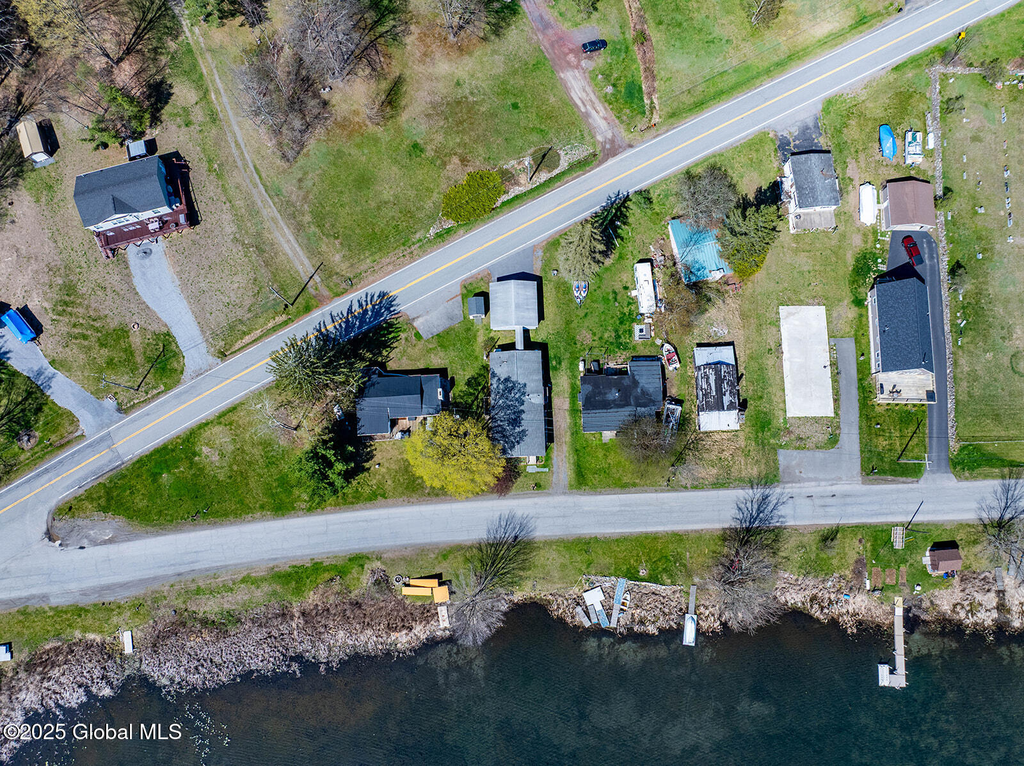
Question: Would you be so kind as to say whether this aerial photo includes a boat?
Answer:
Yes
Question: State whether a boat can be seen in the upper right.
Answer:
Yes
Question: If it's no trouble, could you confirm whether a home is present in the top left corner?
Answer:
Yes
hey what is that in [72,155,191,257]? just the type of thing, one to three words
house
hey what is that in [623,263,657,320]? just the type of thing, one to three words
vehicle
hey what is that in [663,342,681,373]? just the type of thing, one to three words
boat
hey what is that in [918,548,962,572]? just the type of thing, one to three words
shed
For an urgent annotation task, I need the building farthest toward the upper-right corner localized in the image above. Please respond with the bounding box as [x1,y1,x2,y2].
[878,180,935,231]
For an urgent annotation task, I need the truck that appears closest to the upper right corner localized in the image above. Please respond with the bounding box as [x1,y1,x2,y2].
[904,234,926,265]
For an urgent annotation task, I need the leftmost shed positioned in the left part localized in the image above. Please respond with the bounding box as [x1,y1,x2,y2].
[17,121,50,166]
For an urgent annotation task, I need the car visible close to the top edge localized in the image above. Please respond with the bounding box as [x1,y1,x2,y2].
[583,37,607,51]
